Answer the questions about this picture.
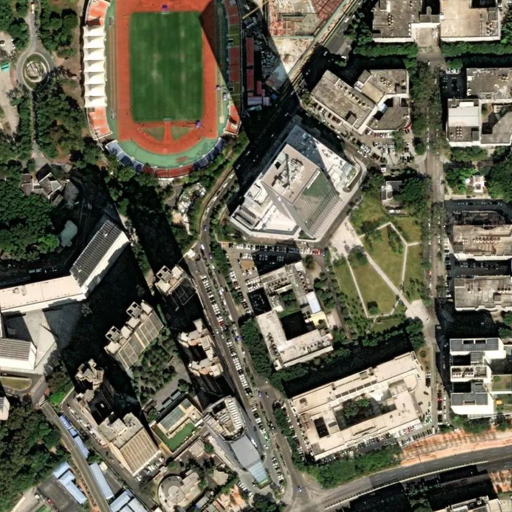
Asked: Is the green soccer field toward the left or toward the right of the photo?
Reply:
left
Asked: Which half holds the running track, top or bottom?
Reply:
top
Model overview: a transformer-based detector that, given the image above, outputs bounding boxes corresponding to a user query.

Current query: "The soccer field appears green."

[130,12,203,122]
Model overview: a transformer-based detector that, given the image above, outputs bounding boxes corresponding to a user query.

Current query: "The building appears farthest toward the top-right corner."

[440,0,502,42]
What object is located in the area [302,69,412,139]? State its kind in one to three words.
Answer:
building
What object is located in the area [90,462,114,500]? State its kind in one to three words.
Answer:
shed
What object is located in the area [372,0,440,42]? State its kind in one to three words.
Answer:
building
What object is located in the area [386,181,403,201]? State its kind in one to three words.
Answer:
house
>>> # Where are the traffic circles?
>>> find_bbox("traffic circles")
[17,48,54,94]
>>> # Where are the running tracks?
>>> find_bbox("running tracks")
[106,0,228,165]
